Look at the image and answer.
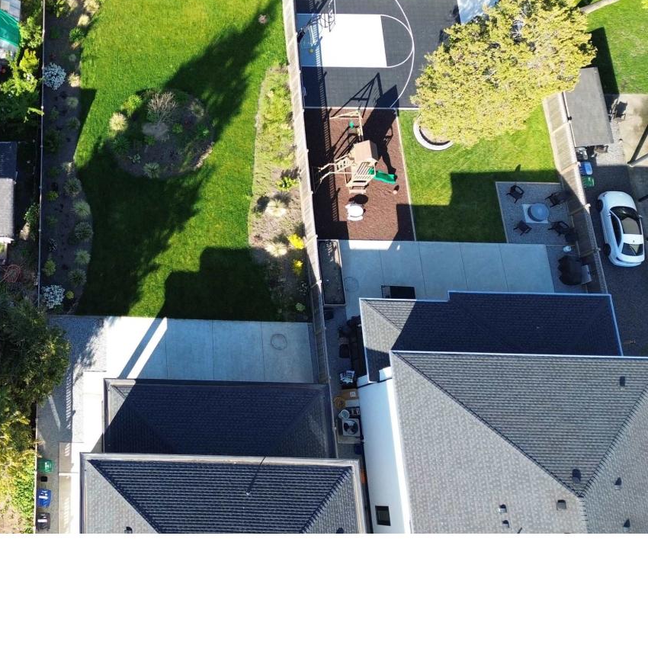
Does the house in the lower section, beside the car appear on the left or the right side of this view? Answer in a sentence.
It is on the right.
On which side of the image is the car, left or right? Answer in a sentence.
The car is on the right side of the image.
